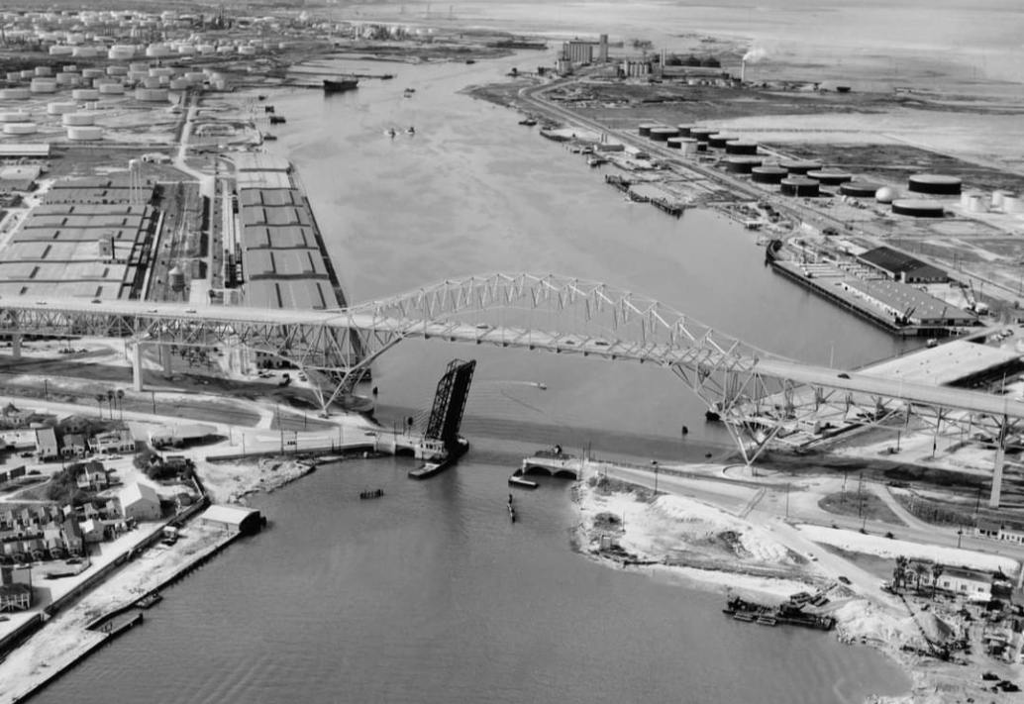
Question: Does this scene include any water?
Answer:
Yes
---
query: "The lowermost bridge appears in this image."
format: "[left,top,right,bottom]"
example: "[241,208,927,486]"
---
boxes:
[0,274,1024,498]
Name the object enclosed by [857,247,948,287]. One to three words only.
building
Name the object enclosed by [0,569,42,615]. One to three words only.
house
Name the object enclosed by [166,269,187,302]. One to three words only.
water tower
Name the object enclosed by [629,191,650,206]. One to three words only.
ship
